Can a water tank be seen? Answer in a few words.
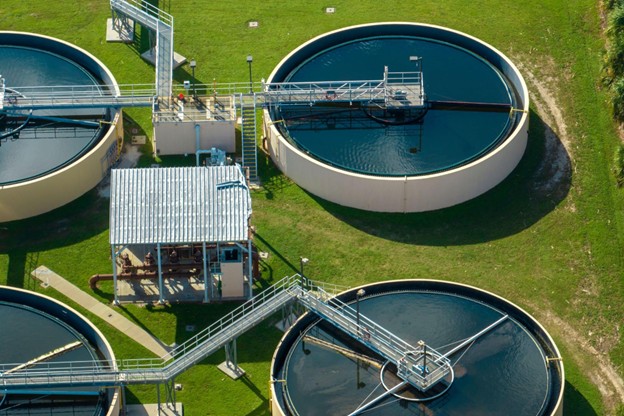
Yes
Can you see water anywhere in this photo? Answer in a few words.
Yes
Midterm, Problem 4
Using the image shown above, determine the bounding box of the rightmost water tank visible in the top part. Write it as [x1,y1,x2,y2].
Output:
[264,22,528,214]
